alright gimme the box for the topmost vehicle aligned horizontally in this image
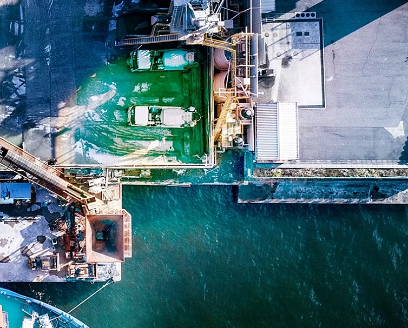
[128,46,209,72]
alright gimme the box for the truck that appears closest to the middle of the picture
[126,100,206,128]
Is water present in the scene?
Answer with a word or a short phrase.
Yes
